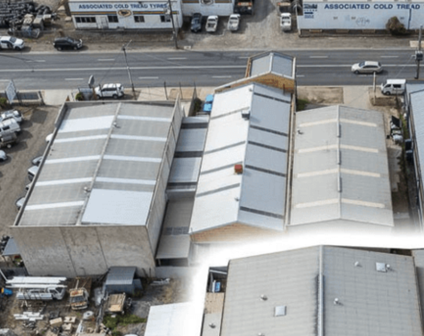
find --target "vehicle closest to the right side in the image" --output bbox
[377,80,410,97]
